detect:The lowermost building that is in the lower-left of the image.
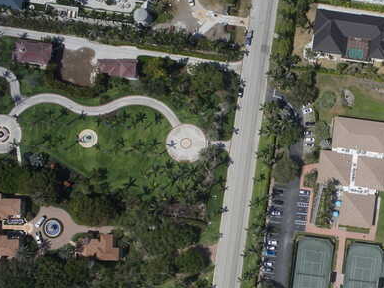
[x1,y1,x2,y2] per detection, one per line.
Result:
[80,231,123,260]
